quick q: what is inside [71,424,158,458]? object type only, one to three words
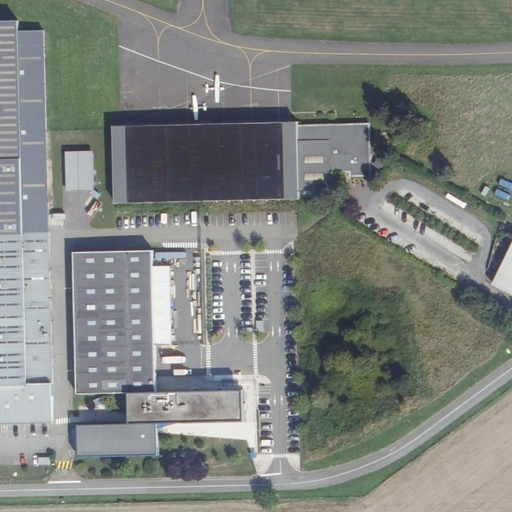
building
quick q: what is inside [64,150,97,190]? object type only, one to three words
building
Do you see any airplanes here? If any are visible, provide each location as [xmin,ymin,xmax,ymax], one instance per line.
[190,94,208,120]
[204,74,224,102]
